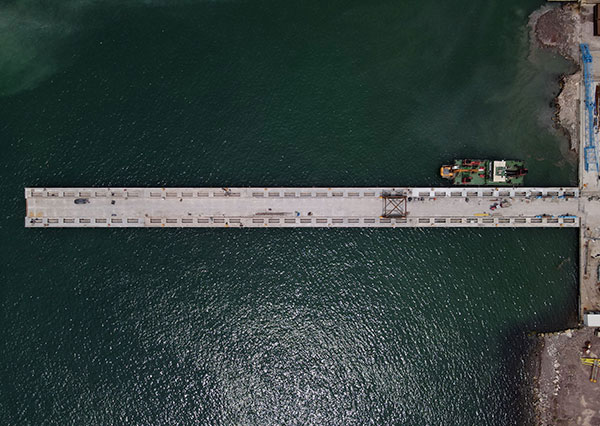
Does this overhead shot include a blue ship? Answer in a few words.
No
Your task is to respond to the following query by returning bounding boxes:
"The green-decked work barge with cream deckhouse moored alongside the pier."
[439,159,527,186]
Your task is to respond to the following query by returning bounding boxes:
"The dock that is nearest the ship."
[25,188,579,227]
